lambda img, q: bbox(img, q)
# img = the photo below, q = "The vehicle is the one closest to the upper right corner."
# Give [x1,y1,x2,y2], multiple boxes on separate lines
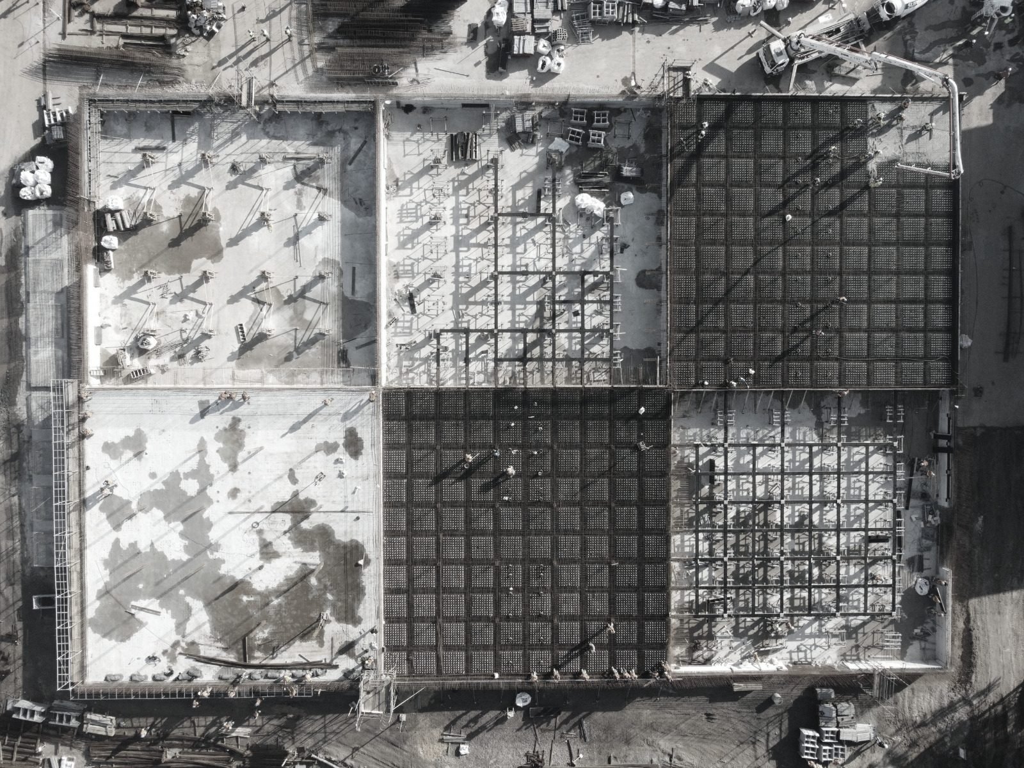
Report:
[966,0,1015,45]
